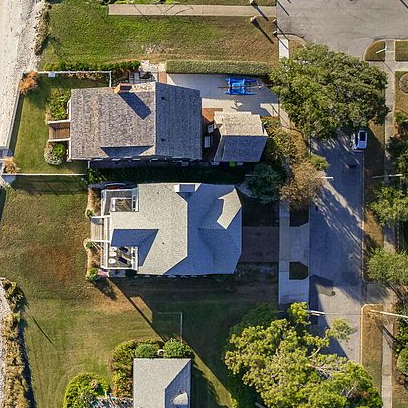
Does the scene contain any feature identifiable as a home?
Yes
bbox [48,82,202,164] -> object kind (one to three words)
house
